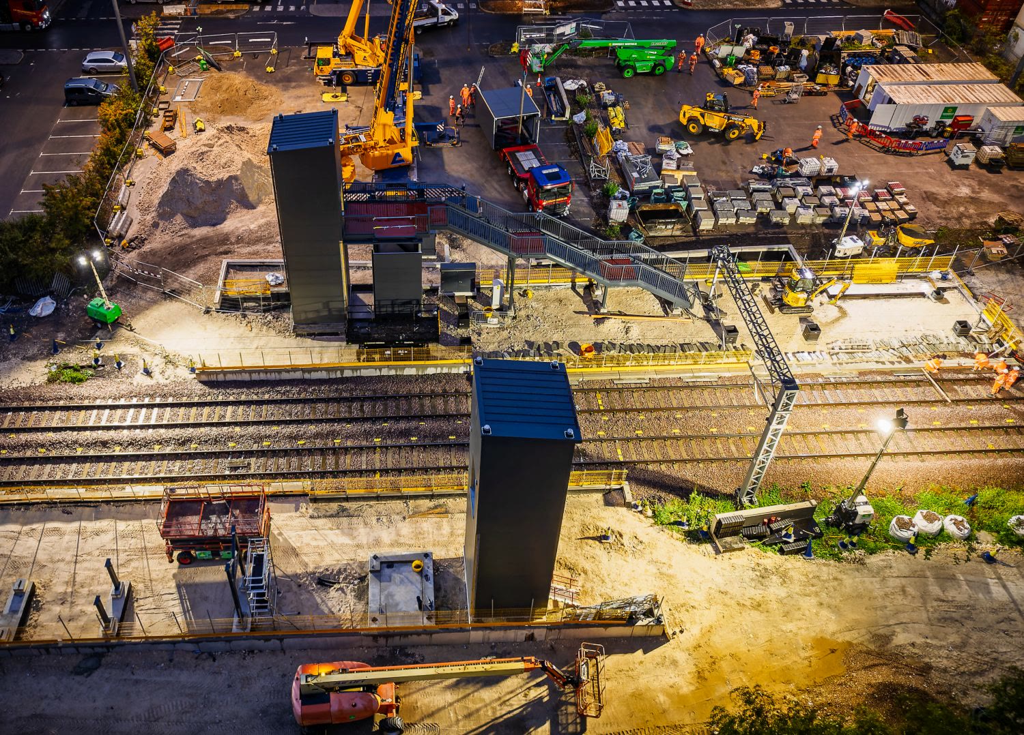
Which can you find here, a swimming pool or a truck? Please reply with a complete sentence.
The image shows a truck.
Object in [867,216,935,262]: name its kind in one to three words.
truck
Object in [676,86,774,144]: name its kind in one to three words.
work vehicle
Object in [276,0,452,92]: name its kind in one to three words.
crane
